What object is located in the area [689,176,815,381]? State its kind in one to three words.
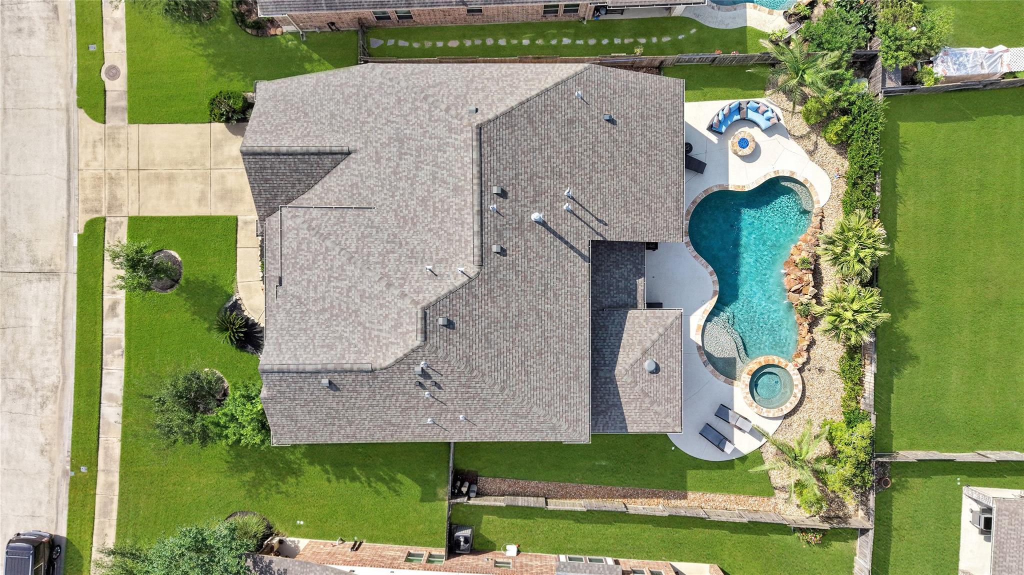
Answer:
swimming pool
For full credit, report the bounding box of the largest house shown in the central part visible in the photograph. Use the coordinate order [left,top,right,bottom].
[240,60,687,445]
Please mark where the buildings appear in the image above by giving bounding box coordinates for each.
[244,536,729,575]
[967,487,1024,575]
[240,60,687,445]
[254,0,709,41]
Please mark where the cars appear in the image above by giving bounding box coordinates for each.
[7,526,62,575]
